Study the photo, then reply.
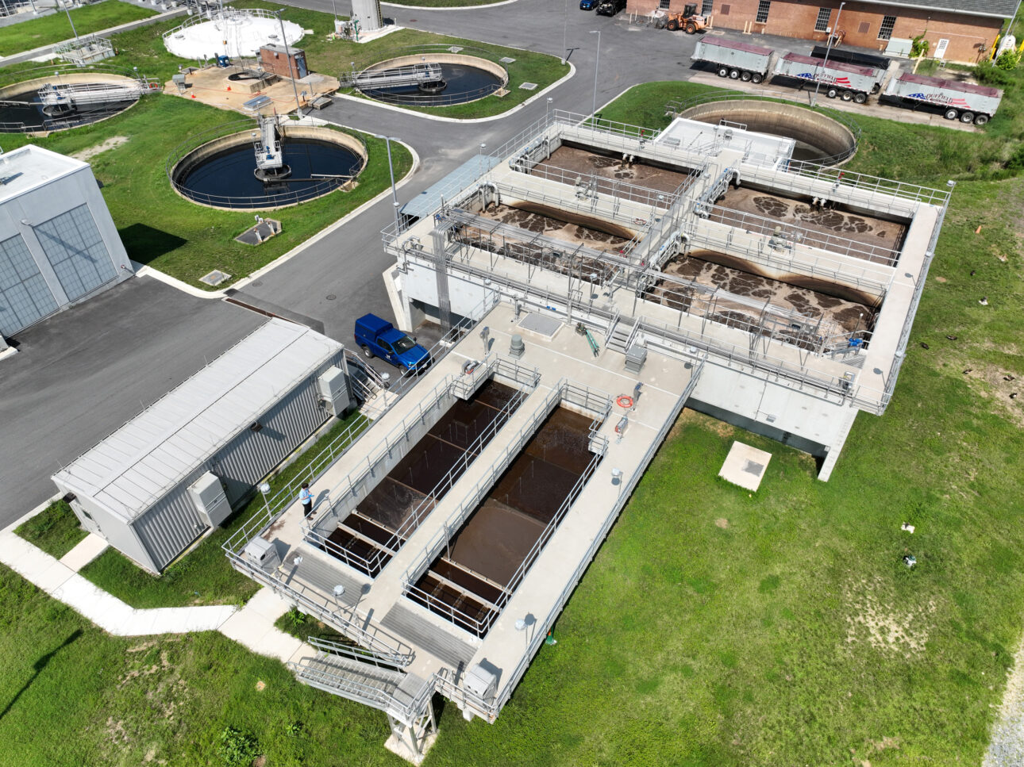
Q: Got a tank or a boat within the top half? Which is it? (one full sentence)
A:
What appears within the top half is a tank.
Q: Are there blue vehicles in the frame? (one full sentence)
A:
Yes, I can see a blue vehicle in this picture.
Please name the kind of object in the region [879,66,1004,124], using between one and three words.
trailer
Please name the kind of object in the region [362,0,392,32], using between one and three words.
silo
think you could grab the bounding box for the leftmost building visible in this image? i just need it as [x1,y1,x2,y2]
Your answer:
[0,142,134,333]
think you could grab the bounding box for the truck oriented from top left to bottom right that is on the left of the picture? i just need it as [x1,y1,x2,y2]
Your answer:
[351,315,433,378]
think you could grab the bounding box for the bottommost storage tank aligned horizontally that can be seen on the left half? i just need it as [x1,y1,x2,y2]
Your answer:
[168,126,367,213]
